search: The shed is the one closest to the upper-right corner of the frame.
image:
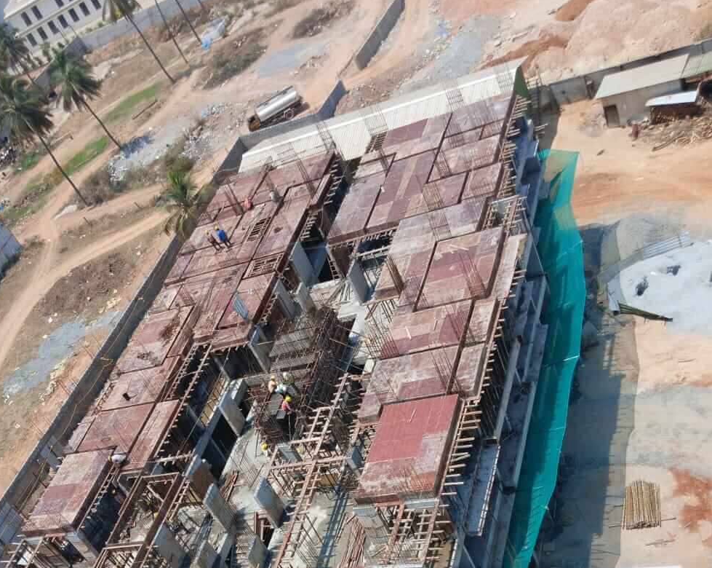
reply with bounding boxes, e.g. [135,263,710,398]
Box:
[690,44,712,90]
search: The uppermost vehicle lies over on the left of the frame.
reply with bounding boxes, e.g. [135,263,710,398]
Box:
[243,81,301,126]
